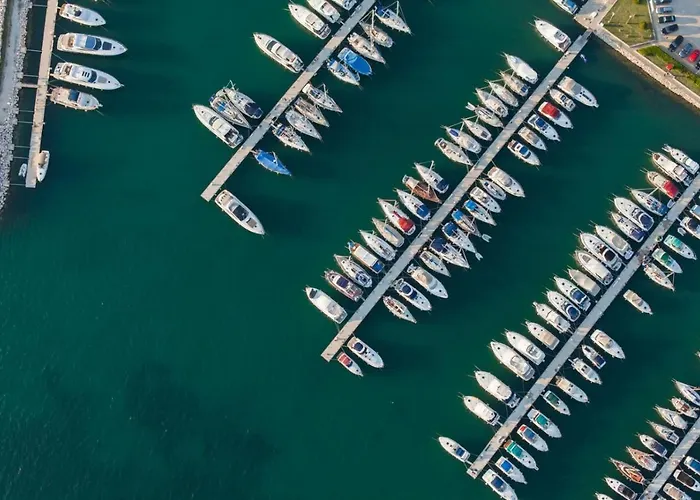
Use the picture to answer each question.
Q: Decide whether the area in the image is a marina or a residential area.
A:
marina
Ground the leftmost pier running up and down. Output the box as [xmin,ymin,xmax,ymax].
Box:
[25,0,58,188]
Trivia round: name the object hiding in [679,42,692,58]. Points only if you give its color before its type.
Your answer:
blue vehicle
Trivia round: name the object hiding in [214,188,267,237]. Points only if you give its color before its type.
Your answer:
white boat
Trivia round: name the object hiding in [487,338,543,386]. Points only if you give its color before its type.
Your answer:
white boat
